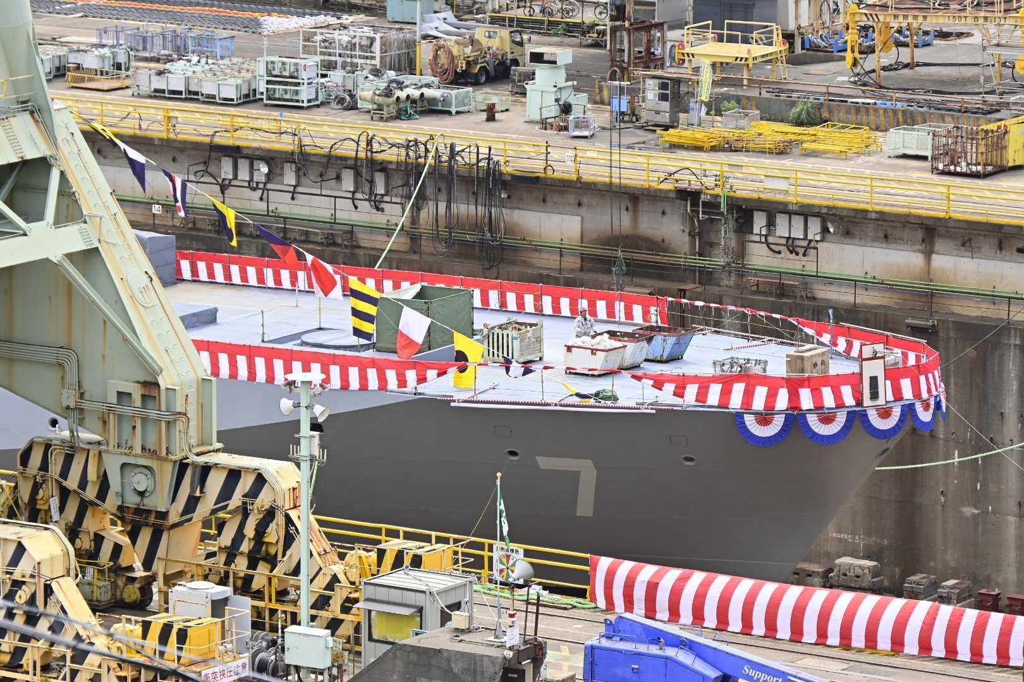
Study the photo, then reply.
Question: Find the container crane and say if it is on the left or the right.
left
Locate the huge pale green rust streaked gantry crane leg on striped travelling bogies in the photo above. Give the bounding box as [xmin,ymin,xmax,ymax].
[0,0,378,682]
